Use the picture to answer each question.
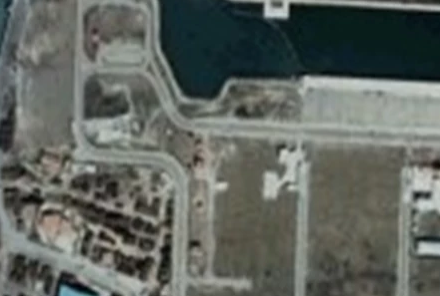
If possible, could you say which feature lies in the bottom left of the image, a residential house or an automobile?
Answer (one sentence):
You can see a residential house in the bottom left of the image.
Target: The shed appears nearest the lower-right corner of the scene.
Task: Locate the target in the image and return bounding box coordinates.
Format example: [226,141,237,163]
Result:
[418,241,440,255]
